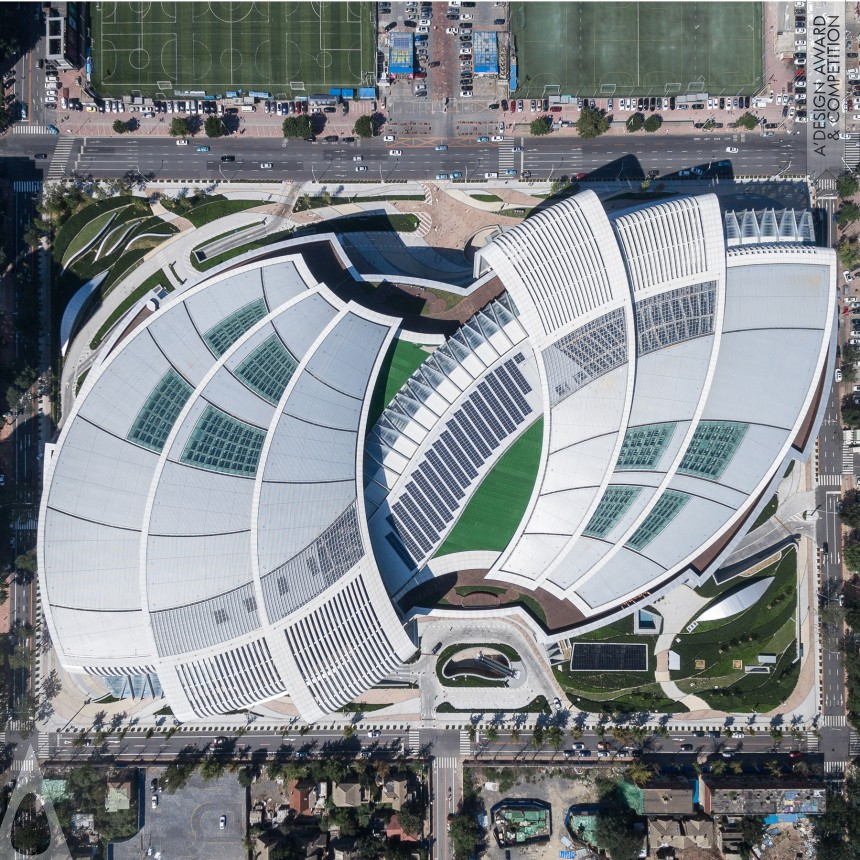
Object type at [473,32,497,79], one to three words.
building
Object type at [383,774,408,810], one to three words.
house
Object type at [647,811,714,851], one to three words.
house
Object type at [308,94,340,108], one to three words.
building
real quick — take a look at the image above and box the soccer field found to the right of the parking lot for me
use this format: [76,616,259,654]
[509,0,762,96]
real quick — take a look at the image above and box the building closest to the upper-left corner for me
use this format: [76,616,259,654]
[40,0,79,71]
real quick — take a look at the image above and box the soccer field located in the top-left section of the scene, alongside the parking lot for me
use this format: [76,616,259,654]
[89,0,376,96]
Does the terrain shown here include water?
No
